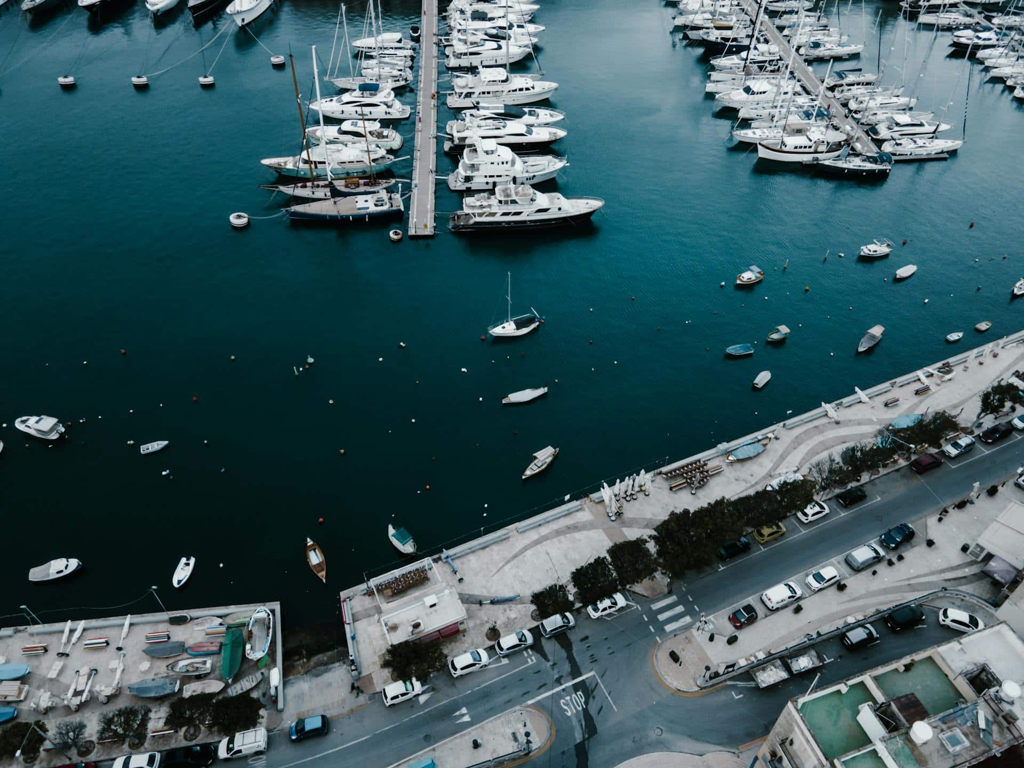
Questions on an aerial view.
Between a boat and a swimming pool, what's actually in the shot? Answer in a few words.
boat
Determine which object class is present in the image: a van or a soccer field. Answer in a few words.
van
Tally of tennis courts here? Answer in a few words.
0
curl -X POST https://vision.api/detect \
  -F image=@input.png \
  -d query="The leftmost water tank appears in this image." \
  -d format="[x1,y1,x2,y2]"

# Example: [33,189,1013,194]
[905,722,931,748]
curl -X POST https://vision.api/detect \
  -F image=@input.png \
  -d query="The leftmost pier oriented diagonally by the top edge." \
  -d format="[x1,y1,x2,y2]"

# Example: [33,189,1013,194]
[739,0,880,156]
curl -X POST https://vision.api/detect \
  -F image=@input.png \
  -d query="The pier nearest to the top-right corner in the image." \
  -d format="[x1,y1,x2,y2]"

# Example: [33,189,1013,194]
[964,5,1024,49]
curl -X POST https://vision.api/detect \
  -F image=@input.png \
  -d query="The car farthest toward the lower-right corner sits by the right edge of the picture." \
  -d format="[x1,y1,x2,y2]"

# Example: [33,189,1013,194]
[939,611,980,635]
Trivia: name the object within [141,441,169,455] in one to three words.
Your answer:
boat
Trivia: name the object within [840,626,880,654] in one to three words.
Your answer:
car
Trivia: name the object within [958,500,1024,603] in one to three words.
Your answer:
building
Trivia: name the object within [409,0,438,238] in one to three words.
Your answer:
pier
